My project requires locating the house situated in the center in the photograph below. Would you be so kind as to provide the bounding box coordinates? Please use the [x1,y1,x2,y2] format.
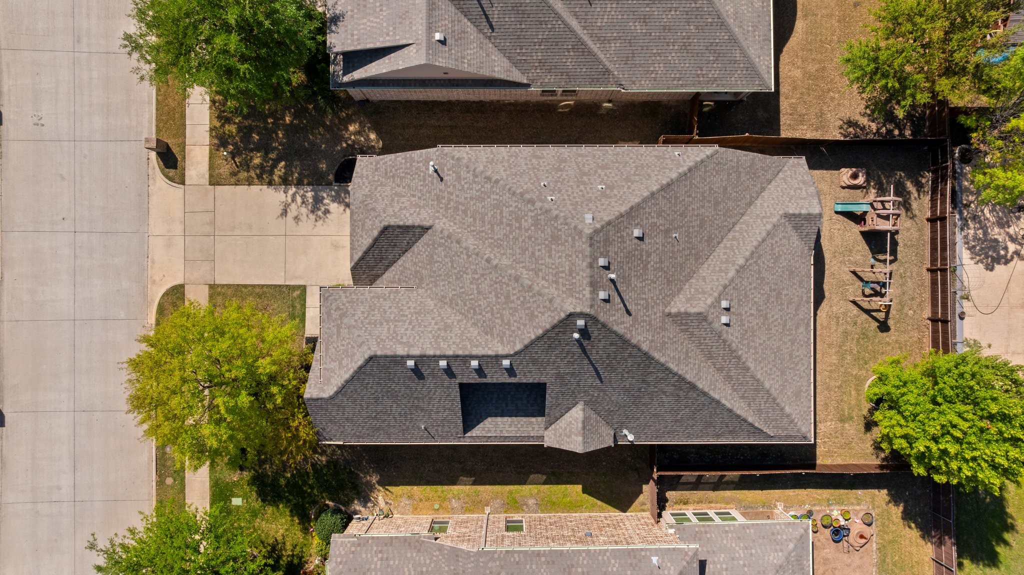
[304,144,822,453]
